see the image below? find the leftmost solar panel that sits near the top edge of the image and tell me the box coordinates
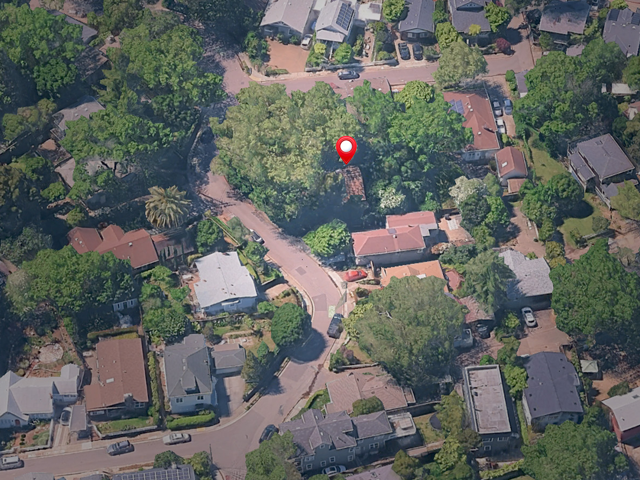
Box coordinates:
[339,2,354,29]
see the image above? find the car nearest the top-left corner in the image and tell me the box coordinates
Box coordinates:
[300,32,313,50]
